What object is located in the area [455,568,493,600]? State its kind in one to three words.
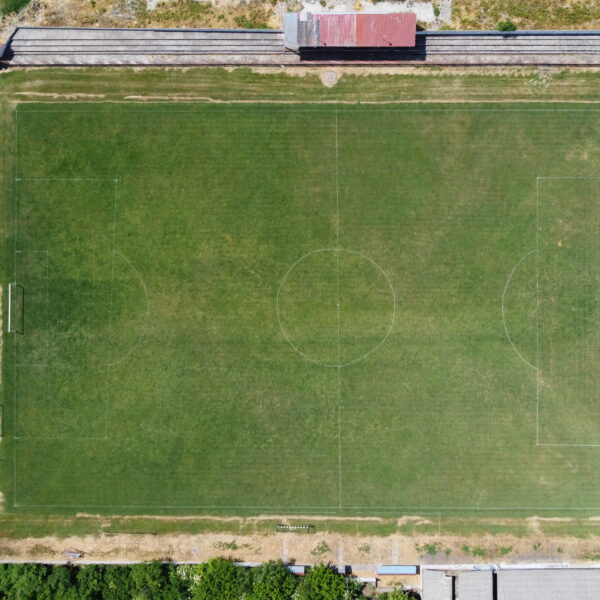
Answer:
shed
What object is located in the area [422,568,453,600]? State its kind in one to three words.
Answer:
shed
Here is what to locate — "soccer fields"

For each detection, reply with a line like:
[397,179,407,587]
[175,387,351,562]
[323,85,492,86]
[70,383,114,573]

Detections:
[13,103,600,534]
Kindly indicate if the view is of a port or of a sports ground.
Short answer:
sports ground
